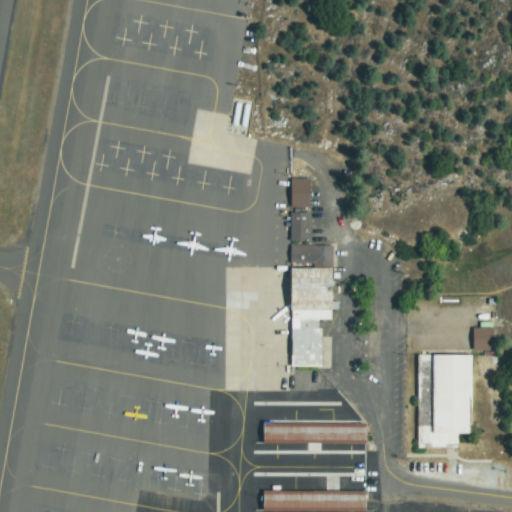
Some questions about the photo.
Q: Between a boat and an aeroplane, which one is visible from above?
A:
aeroplane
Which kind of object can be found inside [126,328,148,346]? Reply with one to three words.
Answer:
airplane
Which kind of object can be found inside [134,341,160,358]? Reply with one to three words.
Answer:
airplane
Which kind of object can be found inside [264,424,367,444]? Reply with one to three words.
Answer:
hangar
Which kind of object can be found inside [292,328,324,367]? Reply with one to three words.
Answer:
building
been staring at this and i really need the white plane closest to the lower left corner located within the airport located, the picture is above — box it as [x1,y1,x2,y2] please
[153,464,177,482]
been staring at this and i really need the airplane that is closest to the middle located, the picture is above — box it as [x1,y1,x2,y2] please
[215,236,248,260]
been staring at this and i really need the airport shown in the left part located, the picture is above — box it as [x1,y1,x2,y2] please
[0,0,368,512]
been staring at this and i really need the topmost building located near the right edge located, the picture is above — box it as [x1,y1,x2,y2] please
[474,328,494,350]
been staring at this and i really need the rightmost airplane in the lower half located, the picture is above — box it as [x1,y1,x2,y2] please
[270,305,291,324]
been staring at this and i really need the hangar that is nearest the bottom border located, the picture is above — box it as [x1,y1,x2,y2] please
[264,492,367,512]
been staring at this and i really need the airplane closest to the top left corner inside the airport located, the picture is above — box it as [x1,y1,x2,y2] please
[142,225,167,246]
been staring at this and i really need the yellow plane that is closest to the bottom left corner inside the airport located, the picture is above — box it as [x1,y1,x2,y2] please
[124,404,148,420]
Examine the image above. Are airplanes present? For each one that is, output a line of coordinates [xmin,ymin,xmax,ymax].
[204,344,222,359]
[124,404,148,420]
[177,230,210,254]
[126,328,148,346]
[270,305,291,324]
[153,464,177,482]
[190,407,216,424]
[178,472,204,490]
[215,236,248,260]
[150,334,176,352]
[164,402,190,420]
[142,225,167,246]
[134,341,160,358]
